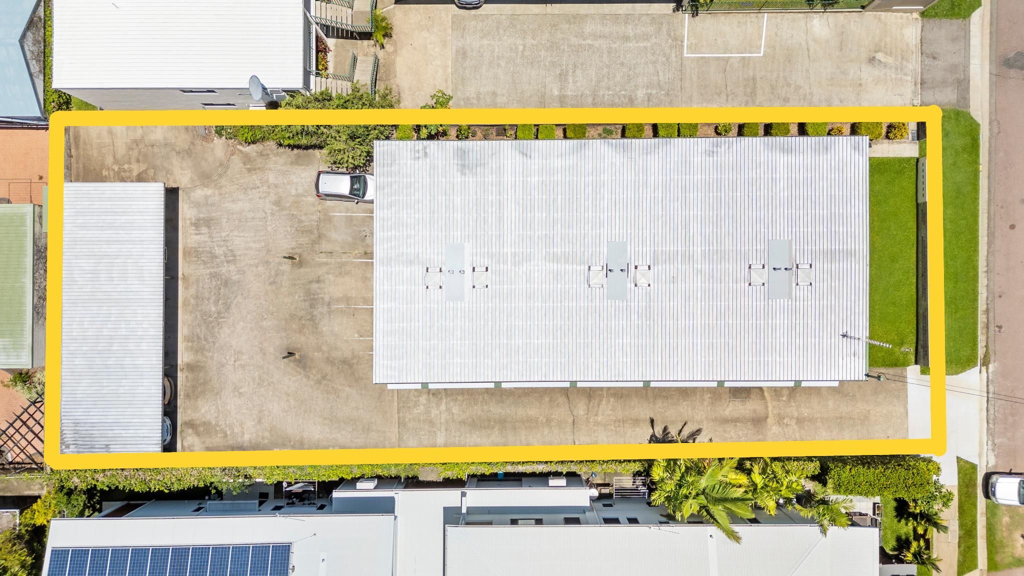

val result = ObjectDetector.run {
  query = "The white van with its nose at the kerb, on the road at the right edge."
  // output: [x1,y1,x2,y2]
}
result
[985,470,1024,510]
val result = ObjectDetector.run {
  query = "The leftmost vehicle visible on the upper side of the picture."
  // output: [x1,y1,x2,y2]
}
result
[315,168,373,204]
